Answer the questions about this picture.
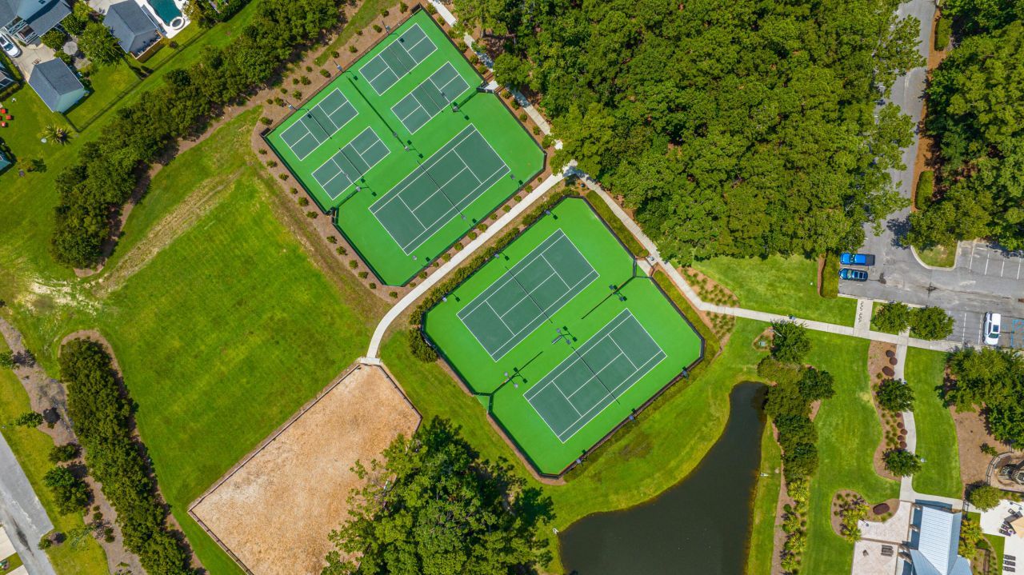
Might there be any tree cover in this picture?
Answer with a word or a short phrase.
Yes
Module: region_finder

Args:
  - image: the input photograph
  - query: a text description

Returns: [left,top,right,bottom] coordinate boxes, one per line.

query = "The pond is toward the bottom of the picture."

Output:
[558,381,768,575]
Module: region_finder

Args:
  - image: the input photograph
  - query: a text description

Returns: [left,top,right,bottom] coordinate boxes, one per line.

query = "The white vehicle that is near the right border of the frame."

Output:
[983,313,1001,343]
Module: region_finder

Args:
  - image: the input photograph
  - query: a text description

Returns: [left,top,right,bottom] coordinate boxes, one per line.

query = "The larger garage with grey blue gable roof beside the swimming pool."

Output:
[104,0,163,55]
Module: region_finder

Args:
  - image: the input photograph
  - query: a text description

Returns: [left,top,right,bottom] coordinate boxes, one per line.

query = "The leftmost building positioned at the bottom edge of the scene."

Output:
[895,503,970,575]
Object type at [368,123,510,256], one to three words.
tennis court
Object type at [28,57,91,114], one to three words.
building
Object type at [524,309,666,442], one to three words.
tennis court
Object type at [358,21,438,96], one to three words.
sports court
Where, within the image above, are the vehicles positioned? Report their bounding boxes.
[983,313,1001,343]
[0,29,19,57]
[841,252,875,265]
[840,268,868,281]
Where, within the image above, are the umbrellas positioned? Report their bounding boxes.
[65,42,80,56]
[1011,517,1024,540]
